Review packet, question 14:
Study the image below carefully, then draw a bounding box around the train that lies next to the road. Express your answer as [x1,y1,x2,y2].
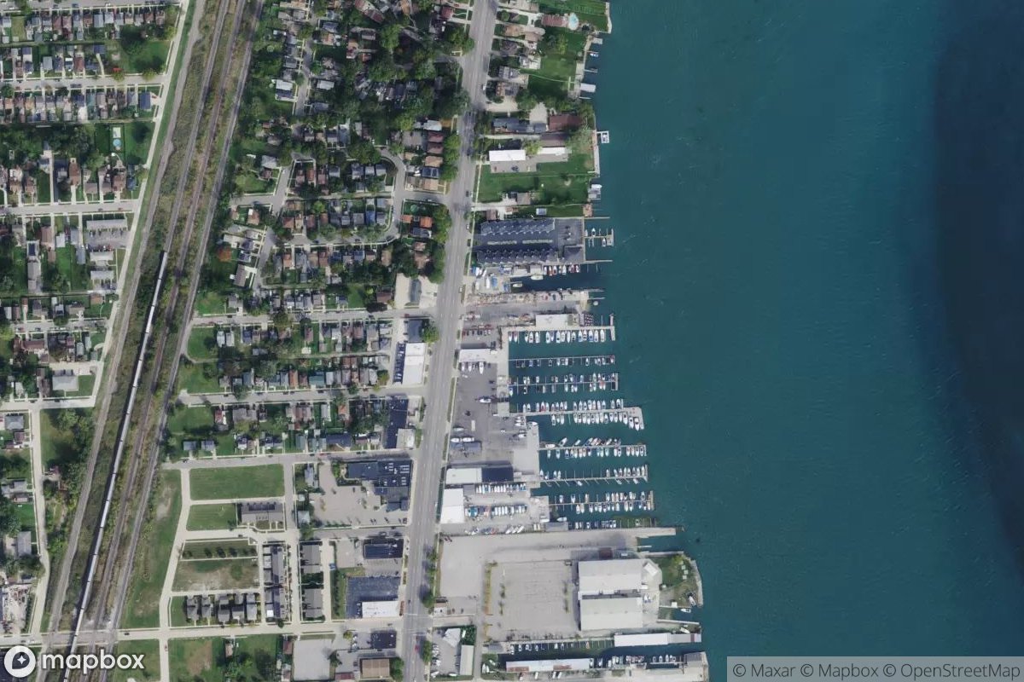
[64,253,167,682]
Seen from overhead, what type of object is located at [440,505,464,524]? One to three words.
building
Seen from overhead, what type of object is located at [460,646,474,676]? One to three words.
shed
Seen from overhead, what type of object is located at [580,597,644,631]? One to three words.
building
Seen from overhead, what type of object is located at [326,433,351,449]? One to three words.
house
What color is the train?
white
